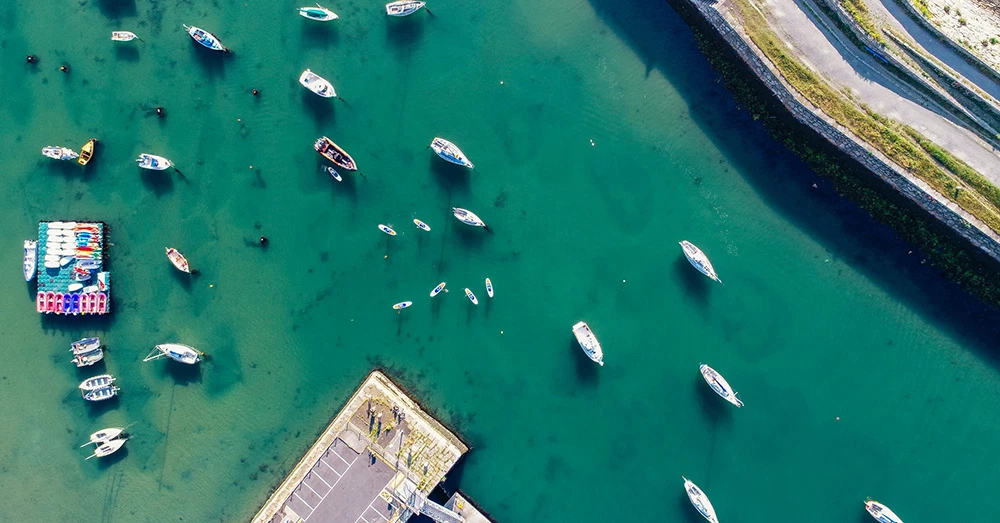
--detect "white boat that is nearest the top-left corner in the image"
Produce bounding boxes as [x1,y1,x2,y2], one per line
[110,31,147,44]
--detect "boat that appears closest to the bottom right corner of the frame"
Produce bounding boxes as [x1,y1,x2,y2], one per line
[860,498,903,523]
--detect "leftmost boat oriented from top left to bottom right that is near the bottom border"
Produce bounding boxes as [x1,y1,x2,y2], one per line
[683,476,724,523]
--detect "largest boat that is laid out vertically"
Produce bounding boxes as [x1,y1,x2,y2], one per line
[22,237,39,281]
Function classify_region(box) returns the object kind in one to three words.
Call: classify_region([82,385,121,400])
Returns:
boat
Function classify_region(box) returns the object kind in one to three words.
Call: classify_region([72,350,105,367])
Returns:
boat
